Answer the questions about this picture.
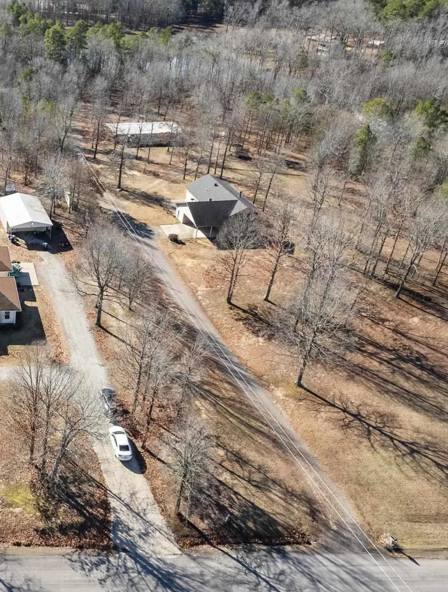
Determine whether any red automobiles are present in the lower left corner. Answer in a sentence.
No, there's no red automobile to be seen in the lower left corner.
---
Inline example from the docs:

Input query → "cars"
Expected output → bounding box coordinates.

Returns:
[110,426,132,457]
[101,388,120,415]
